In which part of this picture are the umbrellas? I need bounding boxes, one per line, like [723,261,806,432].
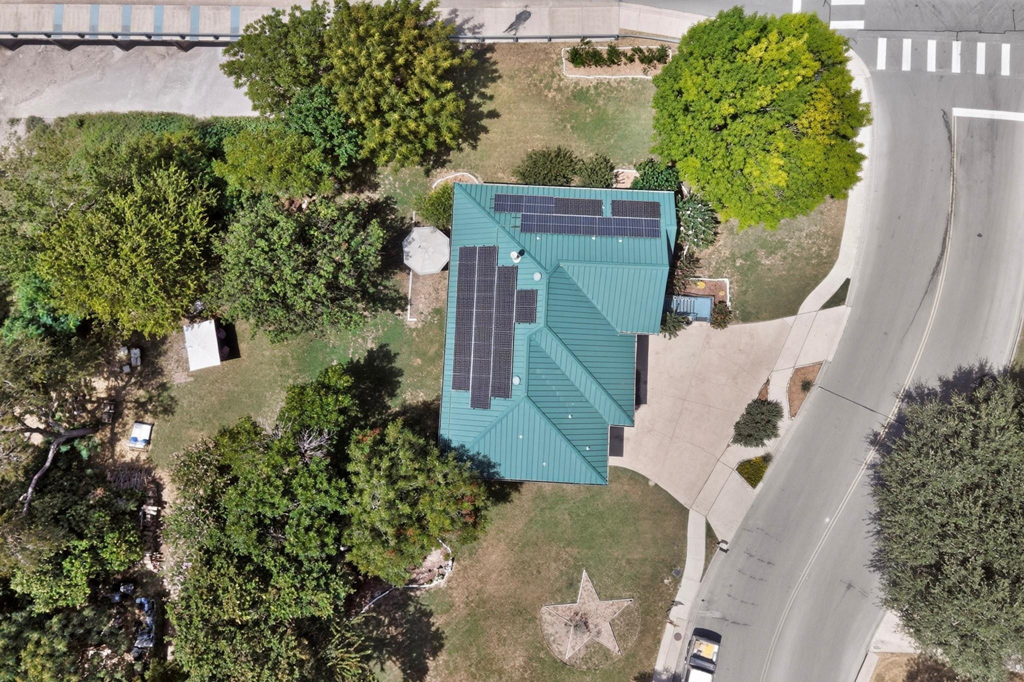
[403,227,448,275]
[184,319,221,371]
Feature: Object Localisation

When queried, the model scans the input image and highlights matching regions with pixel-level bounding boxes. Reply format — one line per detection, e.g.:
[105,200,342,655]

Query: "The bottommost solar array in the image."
[451,244,536,410]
